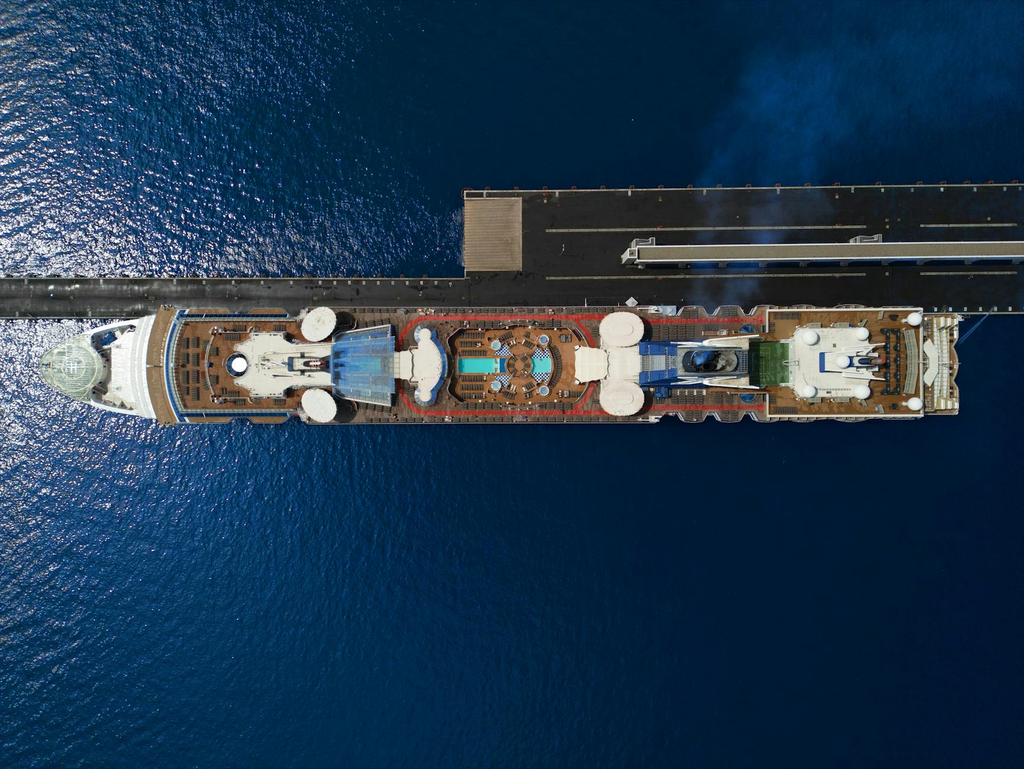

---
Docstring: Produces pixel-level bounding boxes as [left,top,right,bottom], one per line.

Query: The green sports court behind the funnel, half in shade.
[741,339,799,388]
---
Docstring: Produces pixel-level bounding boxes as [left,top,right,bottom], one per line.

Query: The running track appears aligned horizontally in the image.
[396,315,764,415]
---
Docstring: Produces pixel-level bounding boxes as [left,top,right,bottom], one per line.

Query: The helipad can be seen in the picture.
[38,334,103,401]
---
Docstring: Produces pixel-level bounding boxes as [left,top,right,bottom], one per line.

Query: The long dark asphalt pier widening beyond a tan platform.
[0,184,1024,319]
